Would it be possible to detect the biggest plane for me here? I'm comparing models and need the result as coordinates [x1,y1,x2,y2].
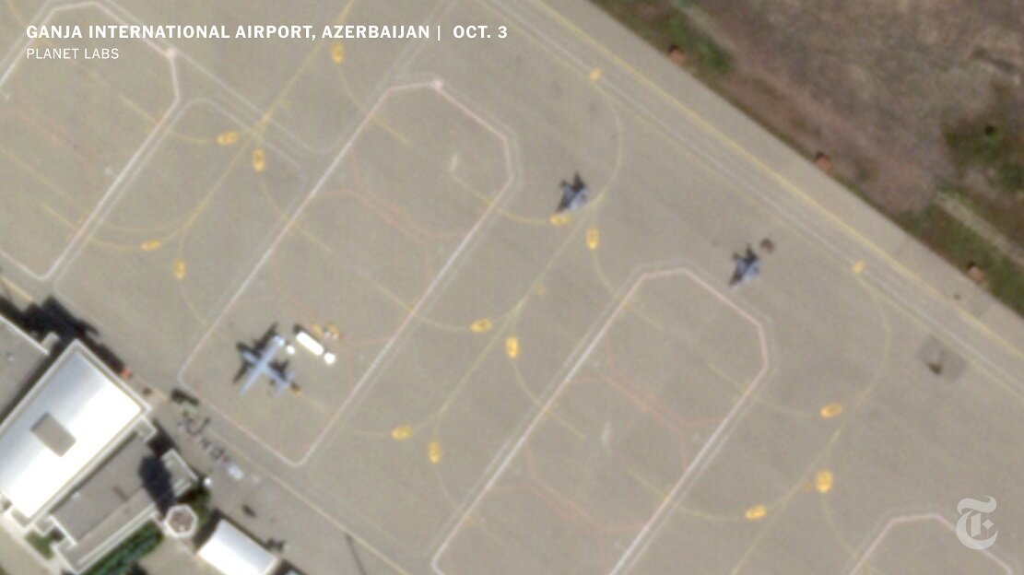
[240,338,294,397]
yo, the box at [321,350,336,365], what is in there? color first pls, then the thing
white vehicle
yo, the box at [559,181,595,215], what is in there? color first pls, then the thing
gray airplane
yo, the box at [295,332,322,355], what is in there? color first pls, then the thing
white truck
